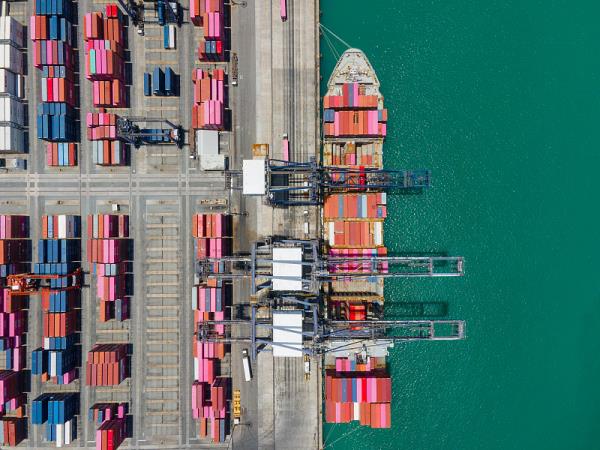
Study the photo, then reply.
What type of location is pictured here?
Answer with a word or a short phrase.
port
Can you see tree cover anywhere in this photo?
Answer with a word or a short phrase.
No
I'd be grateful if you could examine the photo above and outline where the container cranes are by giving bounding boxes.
[197,284,465,360]
[2,266,84,294]
[116,117,184,149]
[197,230,464,297]
[224,157,430,213]
[118,0,184,26]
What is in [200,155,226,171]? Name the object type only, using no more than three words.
building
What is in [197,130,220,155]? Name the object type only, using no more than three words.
building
